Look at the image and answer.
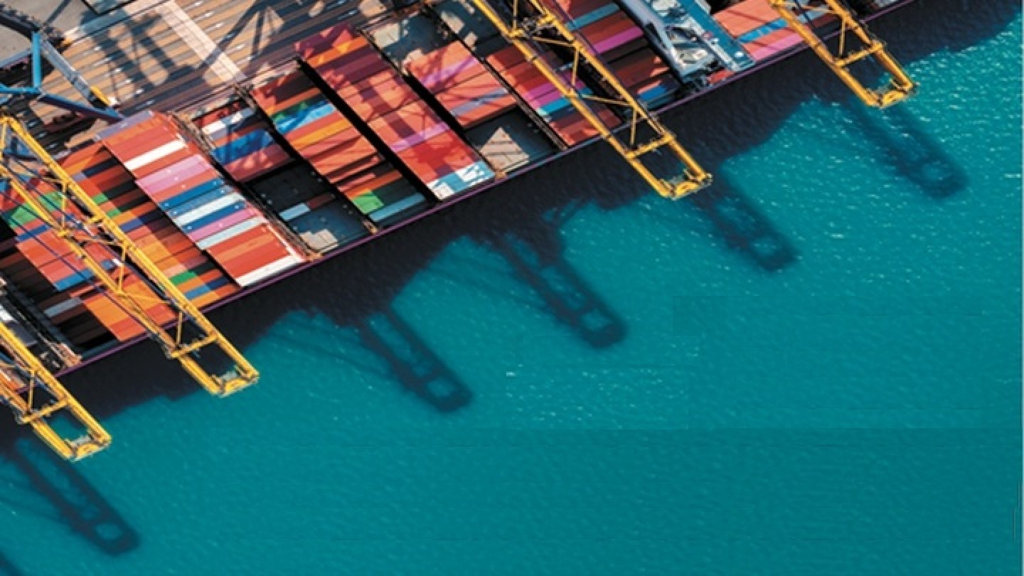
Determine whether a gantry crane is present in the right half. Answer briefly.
Yes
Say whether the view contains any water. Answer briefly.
Yes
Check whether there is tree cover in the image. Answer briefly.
No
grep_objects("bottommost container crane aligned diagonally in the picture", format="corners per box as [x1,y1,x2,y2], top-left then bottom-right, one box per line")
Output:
[0,318,118,460]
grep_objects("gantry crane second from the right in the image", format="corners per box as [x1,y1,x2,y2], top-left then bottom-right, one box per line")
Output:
[462,0,711,199]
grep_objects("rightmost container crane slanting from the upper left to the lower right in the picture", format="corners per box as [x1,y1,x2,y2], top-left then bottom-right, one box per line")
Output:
[758,0,922,108]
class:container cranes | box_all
[0,0,264,396]
[0,318,118,460]
[758,0,922,108]
[462,0,711,199]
